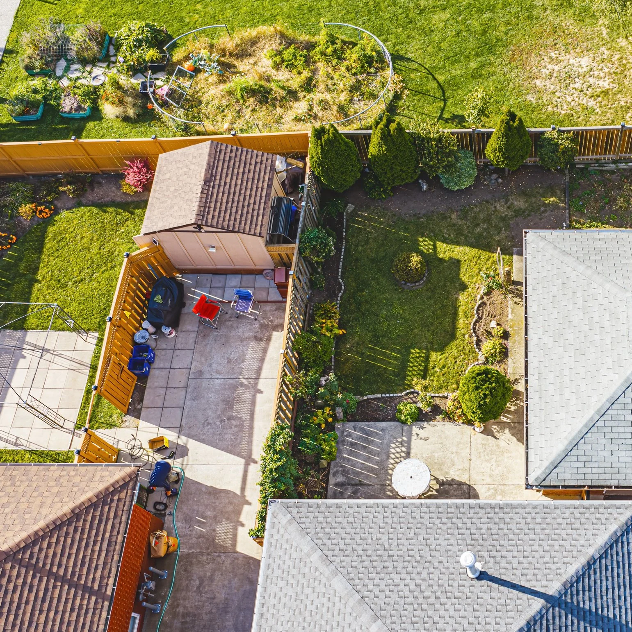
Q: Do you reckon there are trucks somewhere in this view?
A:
No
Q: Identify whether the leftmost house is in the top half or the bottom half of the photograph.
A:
bottom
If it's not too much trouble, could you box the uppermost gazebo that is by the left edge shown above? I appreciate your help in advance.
[0,308,86,424]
